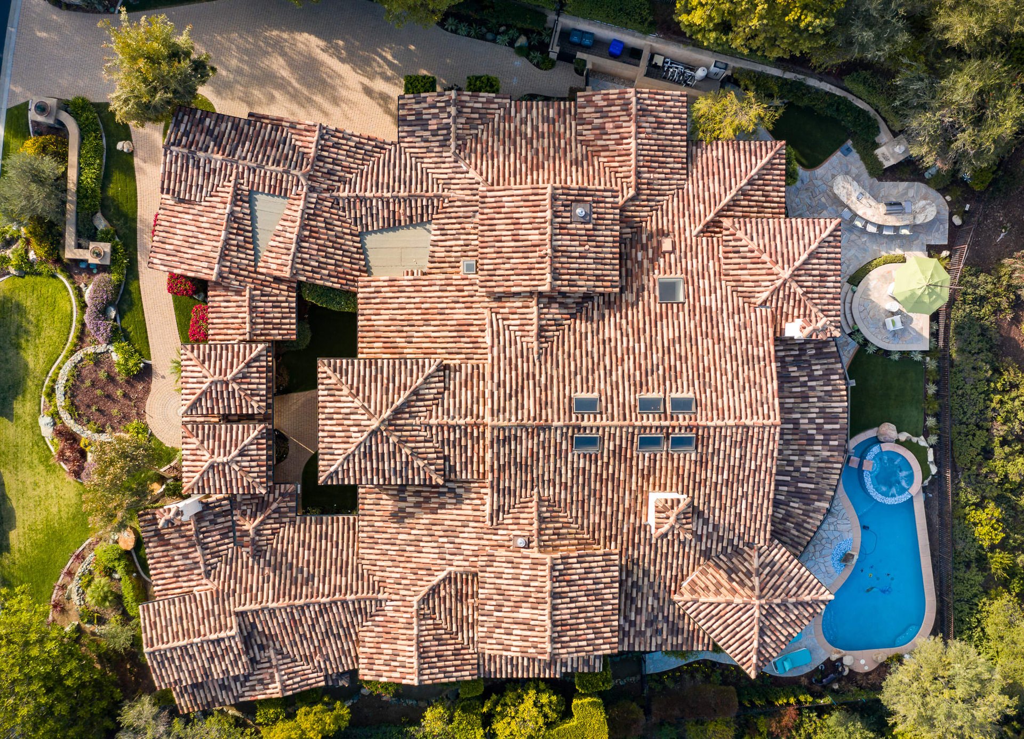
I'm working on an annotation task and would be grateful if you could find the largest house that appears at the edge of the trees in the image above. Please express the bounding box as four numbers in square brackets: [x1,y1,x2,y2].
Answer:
[136,85,851,715]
